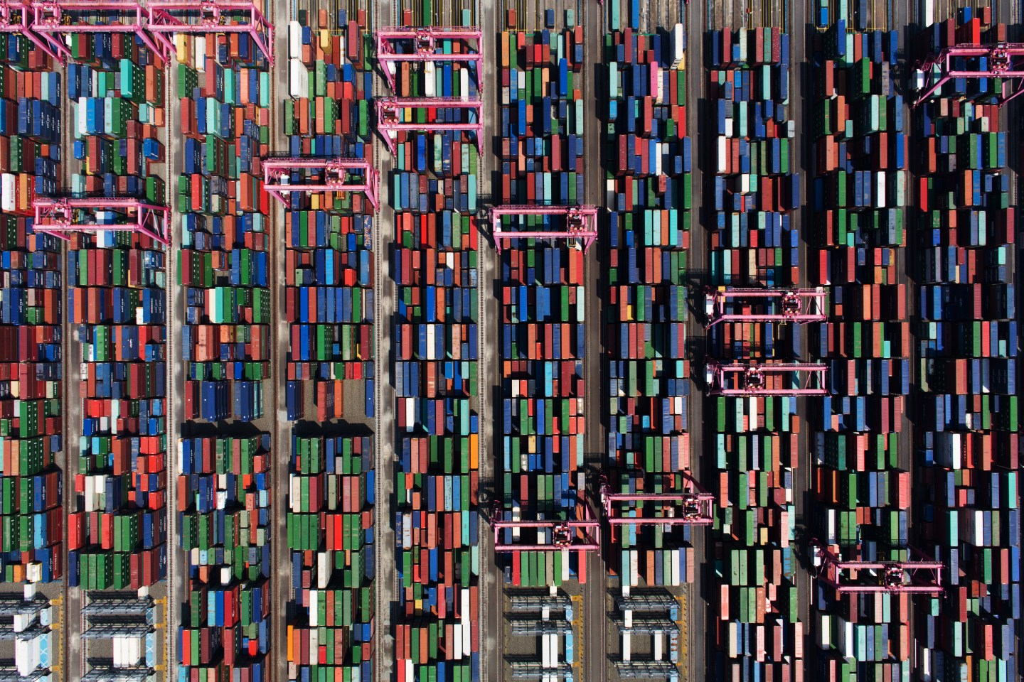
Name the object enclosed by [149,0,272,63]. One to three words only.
container crane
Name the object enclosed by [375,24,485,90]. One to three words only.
container crane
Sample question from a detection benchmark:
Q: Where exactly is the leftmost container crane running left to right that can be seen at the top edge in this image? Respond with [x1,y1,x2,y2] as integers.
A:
[35,0,168,63]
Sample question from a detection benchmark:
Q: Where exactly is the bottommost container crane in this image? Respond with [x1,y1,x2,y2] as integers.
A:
[806,537,942,598]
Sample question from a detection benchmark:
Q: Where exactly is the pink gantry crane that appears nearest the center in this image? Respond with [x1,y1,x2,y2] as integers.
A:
[489,202,600,253]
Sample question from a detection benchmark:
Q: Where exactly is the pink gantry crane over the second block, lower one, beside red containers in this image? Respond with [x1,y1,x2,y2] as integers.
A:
[35,195,169,246]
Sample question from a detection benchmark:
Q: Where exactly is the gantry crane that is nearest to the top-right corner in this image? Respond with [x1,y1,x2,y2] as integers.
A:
[910,42,1024,106]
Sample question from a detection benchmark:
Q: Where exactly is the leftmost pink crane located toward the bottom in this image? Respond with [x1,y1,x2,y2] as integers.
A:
[490,499,601,558]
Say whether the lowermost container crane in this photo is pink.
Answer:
Yes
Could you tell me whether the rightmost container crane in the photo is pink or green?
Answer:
pink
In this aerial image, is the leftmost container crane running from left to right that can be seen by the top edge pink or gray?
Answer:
pink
